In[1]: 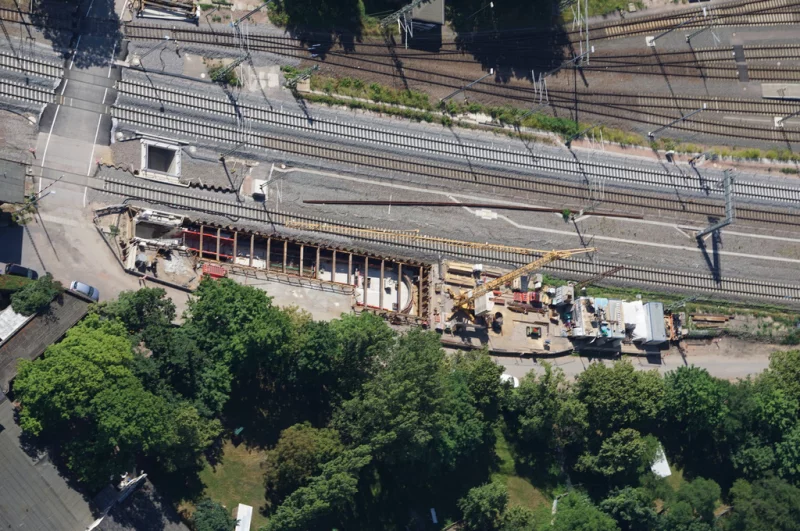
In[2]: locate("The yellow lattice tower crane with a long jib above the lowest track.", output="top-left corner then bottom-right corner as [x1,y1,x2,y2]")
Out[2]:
[280,219,594,326]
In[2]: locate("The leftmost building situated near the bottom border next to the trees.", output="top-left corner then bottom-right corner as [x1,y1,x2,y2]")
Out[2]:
[0,391,96,531]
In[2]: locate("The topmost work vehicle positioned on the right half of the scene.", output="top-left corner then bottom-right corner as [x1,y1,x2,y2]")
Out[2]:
[527,323,545,343]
